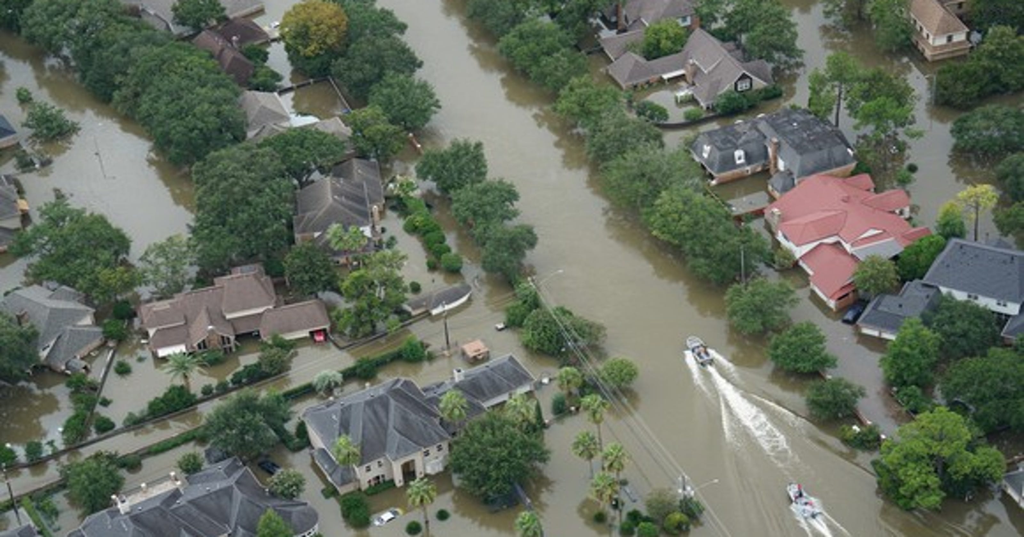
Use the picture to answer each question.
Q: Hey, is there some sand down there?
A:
No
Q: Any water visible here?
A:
Yes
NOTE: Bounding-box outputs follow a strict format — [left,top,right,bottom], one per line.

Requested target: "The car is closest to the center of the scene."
[493,322,512,334]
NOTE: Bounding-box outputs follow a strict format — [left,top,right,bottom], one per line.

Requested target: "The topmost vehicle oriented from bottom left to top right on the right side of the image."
[841,302,867,323]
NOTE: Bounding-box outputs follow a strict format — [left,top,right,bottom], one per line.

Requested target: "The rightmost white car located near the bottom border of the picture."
[371,506,405,528]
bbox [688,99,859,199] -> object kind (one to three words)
house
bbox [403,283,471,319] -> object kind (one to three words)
building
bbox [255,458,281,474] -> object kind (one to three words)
car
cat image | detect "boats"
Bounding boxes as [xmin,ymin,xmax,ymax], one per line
[687,336,720,370]
[786,482,825,520]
